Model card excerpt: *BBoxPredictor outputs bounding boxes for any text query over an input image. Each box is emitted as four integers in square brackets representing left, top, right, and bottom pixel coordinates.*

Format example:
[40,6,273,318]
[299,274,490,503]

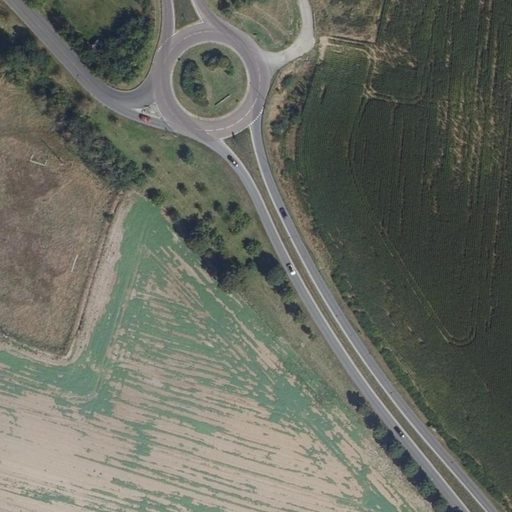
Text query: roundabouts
[152,22,269,140]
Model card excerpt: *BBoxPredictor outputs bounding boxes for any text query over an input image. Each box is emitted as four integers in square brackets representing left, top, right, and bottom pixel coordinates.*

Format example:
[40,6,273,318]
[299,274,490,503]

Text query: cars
[140,114,152,122]
[394,426,405,438]
[279,206,288,218]
[228,154,238,166]
[287,262,296,274]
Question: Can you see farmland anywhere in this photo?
Yes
